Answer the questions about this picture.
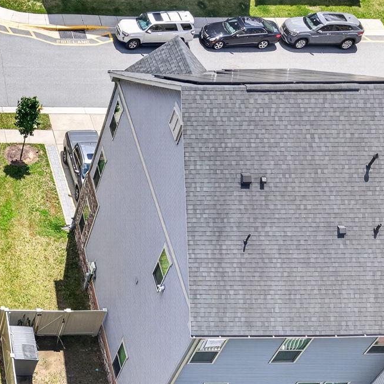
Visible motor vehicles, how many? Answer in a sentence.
In total, there are 4 motor vehicles in the scene.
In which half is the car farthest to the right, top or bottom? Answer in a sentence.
You can find the car farthest to the right in the top half.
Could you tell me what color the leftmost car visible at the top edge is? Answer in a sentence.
From above, the leftmost car visible at the top edge appears white.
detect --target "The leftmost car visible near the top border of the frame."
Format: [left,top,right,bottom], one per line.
[105,2,197,47]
